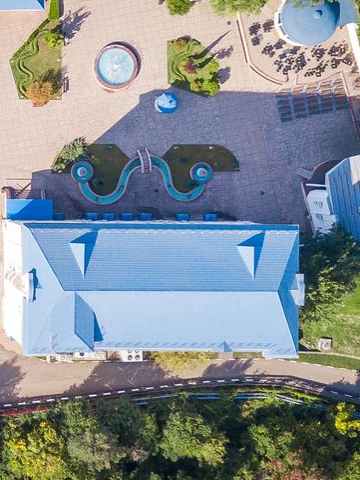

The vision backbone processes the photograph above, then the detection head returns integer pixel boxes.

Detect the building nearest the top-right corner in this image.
[271,0,359,47]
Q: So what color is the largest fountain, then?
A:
white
